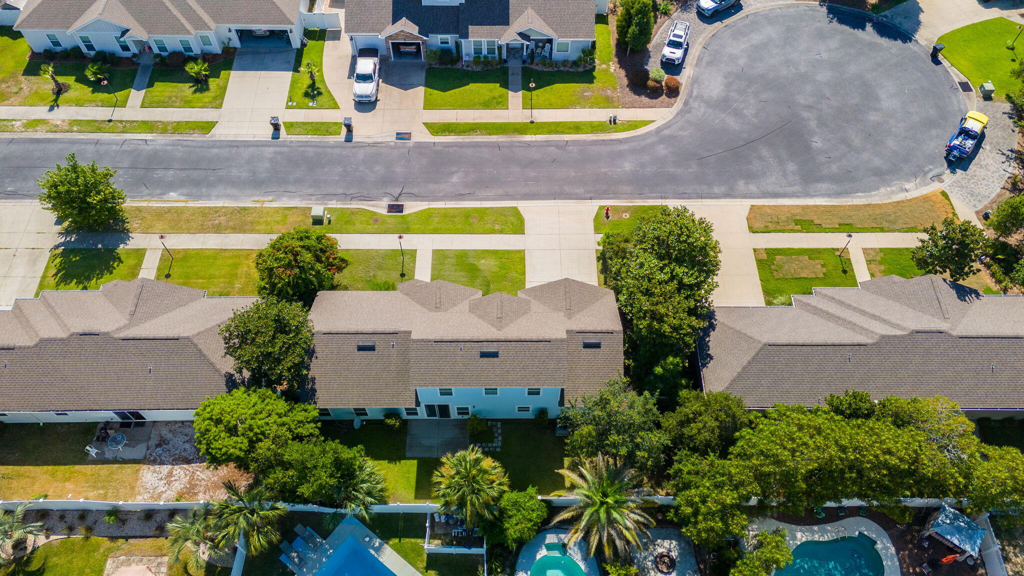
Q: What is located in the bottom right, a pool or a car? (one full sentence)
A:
What appears in the bottom right is a pool.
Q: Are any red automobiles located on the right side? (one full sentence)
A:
No, no red automobile can be made out on the right side.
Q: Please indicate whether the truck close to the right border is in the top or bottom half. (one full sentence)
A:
It is in the top half that the truck close to the right border appears.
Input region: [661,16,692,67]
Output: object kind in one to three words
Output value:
car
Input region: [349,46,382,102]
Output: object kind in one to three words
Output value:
truck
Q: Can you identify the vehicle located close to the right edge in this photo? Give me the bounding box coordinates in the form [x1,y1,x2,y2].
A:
[941,111,988,162]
